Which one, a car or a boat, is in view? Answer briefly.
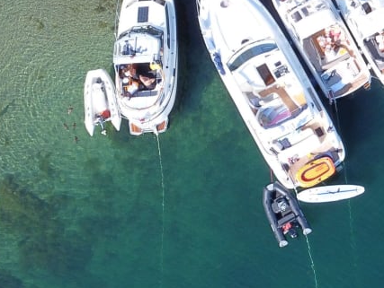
boat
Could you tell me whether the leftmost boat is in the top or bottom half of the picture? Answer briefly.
top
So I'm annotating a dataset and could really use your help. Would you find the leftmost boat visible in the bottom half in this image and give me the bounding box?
[265,183,306,244]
